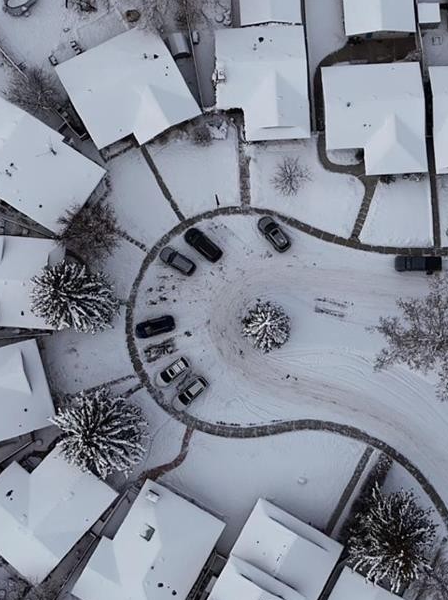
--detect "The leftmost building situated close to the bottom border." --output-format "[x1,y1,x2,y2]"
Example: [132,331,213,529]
[0,445,119,586]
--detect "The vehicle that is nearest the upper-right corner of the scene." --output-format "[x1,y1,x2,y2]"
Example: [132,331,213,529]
[395,254,444,273]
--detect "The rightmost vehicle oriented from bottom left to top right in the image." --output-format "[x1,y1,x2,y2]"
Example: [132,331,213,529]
[173,376,211,409]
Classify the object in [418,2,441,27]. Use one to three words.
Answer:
shed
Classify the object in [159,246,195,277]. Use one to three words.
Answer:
car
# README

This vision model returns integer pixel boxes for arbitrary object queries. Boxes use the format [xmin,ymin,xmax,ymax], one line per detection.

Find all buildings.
[0,445,119,586]
[213,26,310,141]
[428,66,448,174]
[209,496,344,600]
[0,236,66,329]
[321,62,428,175]
[344,0,416,36]
[241,0,302,26]
[327,562,409,600]
[71,479,226,600]
[0,339,55,440]
[0,98,107,234]
[56,28,203,150]
[418,2,441,27]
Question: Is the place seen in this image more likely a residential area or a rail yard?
residential area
